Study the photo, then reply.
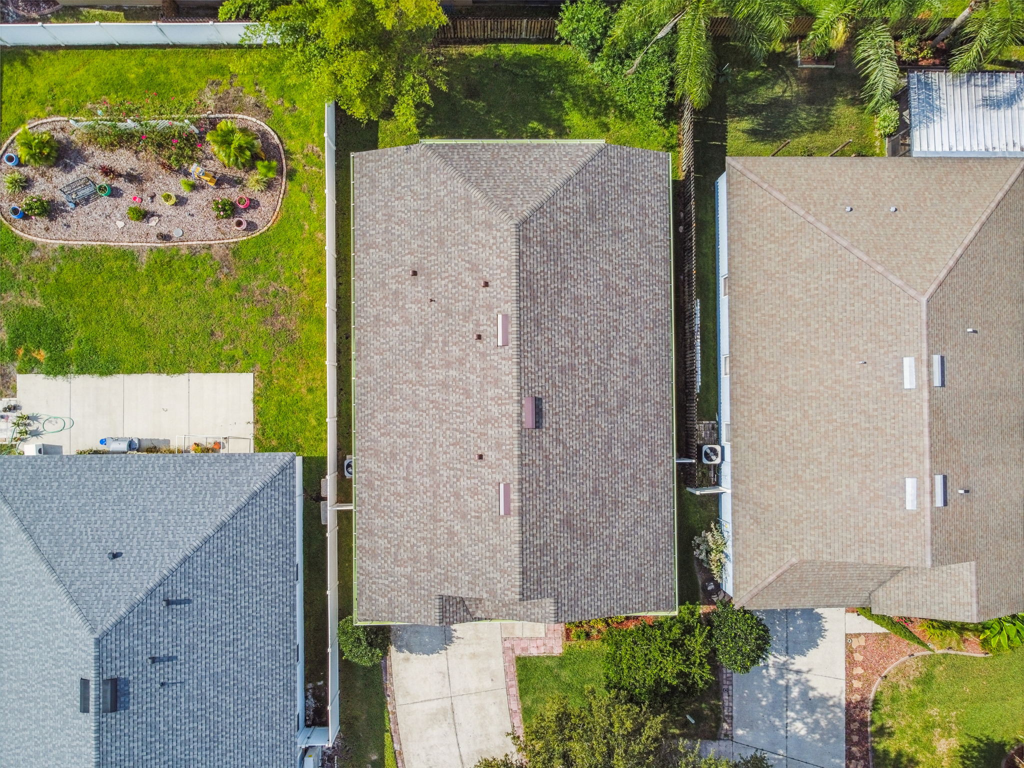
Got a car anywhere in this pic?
No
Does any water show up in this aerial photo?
No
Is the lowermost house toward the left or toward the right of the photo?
left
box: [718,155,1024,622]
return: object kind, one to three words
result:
house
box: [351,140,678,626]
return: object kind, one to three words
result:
house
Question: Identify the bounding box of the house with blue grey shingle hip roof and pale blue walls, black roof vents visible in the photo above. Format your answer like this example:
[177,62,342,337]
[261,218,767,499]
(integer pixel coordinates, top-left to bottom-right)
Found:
[0,450,305,768]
